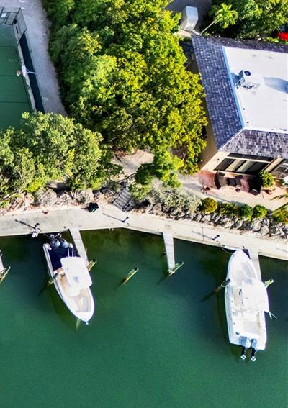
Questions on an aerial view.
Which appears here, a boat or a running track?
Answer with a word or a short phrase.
boat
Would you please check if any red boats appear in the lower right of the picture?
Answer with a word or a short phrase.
No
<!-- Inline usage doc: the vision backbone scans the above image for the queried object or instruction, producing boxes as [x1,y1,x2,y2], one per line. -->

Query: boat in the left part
[45,238,93,323]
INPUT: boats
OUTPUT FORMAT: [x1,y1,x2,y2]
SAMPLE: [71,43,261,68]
[45,238,93,323]
[220,250,277,363]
